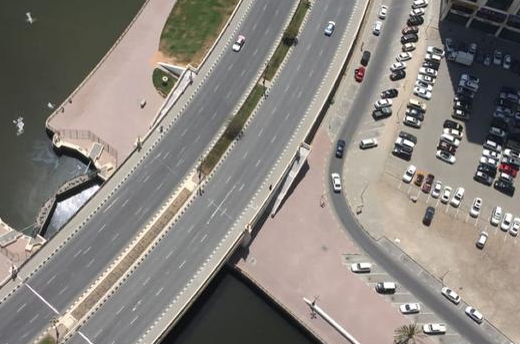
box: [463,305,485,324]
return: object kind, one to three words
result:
car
